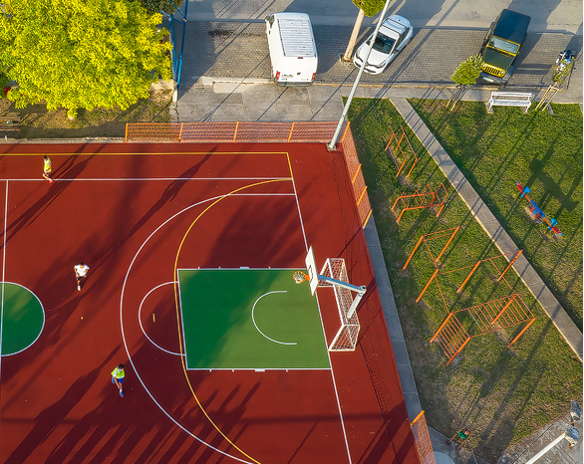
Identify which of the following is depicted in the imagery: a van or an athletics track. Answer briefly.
van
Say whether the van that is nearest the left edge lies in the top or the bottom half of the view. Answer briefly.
top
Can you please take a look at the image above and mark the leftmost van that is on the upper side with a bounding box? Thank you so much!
[269,5,323,83]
